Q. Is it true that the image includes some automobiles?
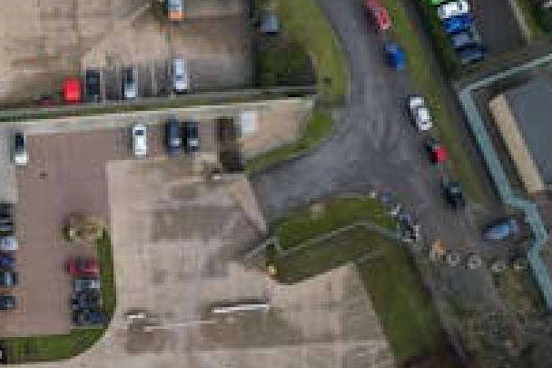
Yes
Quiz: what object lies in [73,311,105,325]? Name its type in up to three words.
car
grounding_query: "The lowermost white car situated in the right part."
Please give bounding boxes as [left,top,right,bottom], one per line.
[406,97,432,131]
